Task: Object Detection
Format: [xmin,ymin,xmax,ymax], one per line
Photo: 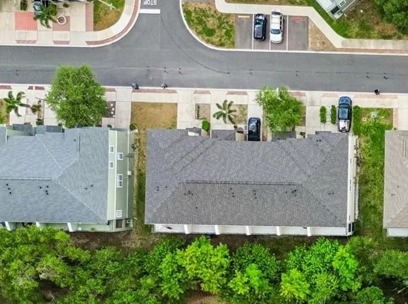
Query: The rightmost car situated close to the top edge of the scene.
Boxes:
[268,8,285,44]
